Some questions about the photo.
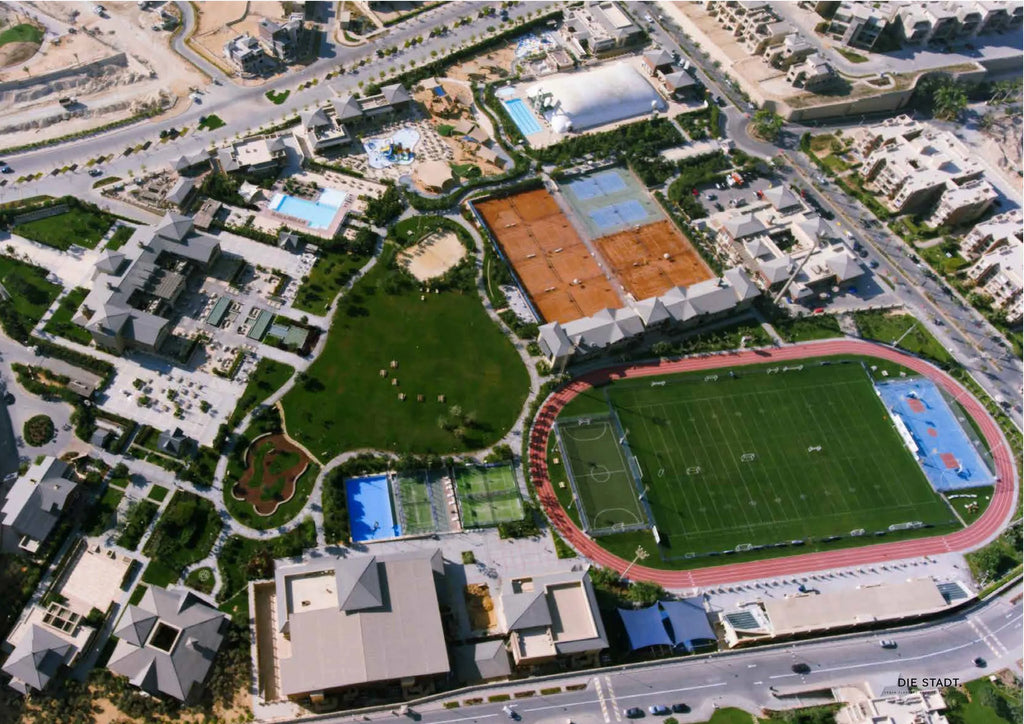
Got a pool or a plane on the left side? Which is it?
pool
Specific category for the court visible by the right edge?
basketball court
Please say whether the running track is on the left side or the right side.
right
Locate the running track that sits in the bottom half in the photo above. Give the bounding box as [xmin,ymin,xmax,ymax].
[530,341,1015,587]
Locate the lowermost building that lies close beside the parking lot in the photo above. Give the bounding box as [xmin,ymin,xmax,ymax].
[537,265,762,366]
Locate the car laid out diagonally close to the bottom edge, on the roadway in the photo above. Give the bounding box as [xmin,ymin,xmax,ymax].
[503,705,519,720]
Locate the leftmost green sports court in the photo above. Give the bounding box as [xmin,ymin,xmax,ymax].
[399,477,435,534]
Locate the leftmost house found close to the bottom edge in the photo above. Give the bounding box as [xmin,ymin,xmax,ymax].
[2,601,97,693]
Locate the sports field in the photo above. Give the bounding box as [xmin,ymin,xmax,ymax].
[611,360,958,561]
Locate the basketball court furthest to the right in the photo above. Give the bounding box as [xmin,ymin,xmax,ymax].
[877,377,994,490]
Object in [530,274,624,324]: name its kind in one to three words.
tennis court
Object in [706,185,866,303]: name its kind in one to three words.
building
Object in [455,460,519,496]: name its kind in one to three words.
sports court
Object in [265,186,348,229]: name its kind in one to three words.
swimming pool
